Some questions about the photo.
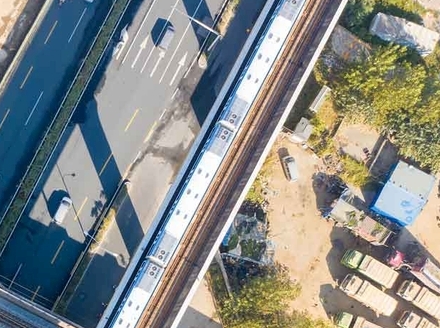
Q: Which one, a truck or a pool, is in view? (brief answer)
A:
truck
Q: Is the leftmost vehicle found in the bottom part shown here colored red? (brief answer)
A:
No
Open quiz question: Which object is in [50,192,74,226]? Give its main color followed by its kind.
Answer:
white vehicle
